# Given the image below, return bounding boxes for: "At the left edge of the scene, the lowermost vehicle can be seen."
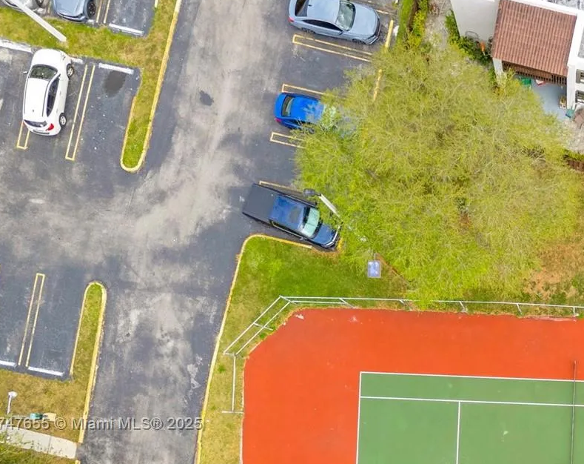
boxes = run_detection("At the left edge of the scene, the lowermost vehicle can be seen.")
[23,52,74,133]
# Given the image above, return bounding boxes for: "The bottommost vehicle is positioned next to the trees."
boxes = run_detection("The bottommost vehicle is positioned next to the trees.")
[239,183,345,253]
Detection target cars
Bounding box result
[56,0,96,20]
[289,0,379,47]
[5,0,40,8]
[23,52,74,133]
[274,93,356,138]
